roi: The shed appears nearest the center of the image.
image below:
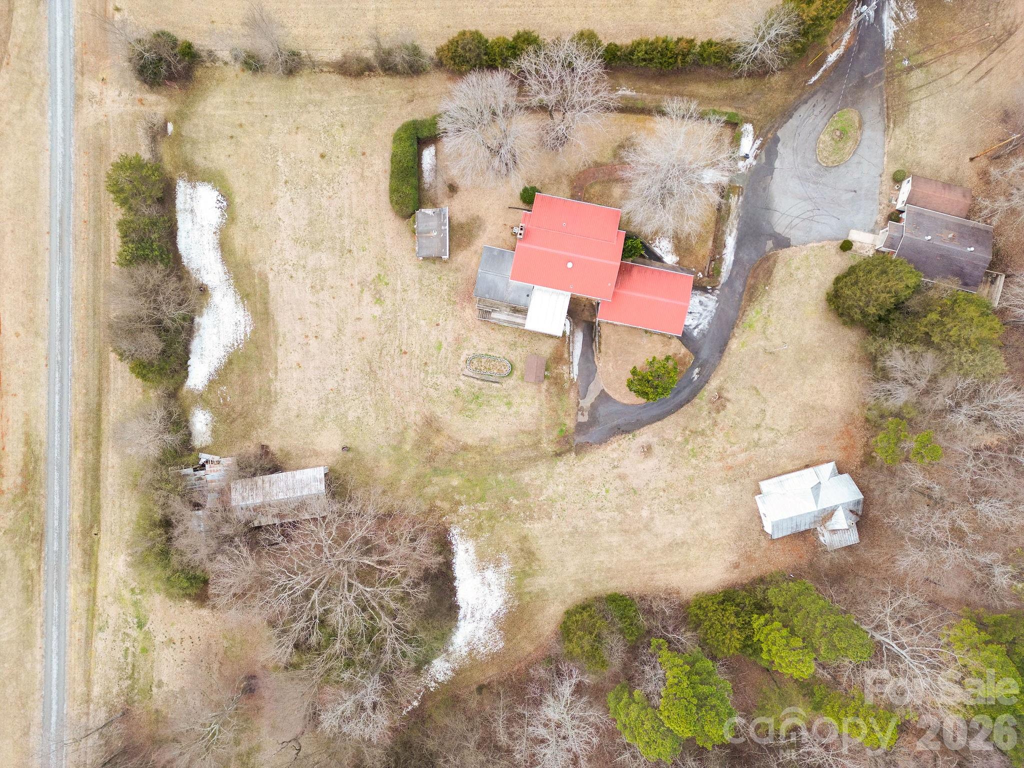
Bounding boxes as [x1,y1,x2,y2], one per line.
[524,354,546,383]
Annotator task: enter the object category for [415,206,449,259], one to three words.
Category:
shed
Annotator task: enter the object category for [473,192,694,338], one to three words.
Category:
house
